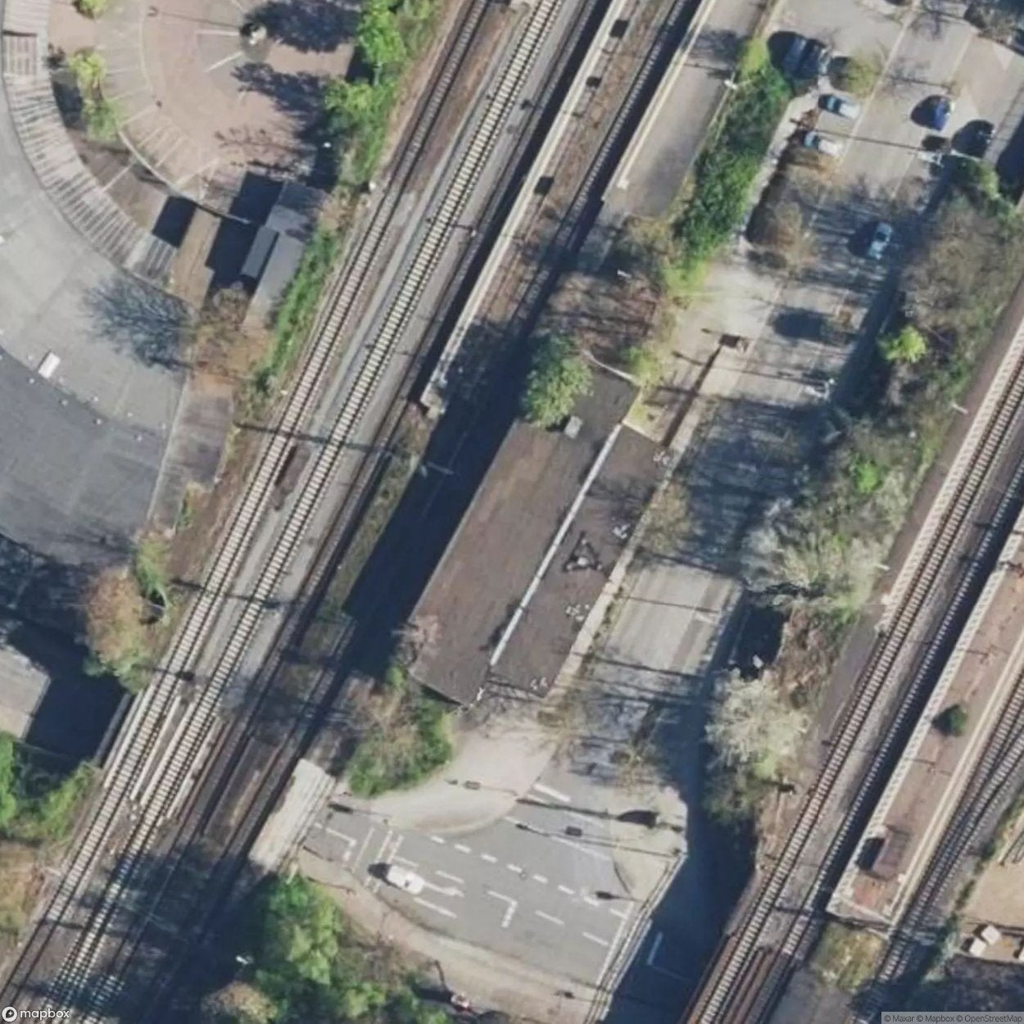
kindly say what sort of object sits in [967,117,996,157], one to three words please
car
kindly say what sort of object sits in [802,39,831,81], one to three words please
car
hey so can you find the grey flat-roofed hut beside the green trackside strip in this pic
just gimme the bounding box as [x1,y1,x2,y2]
[241,179,328,325]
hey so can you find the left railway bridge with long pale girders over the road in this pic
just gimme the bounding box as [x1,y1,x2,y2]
[94,686,338,874]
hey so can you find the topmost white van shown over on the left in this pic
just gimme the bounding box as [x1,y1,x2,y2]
[383,865,426,895]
